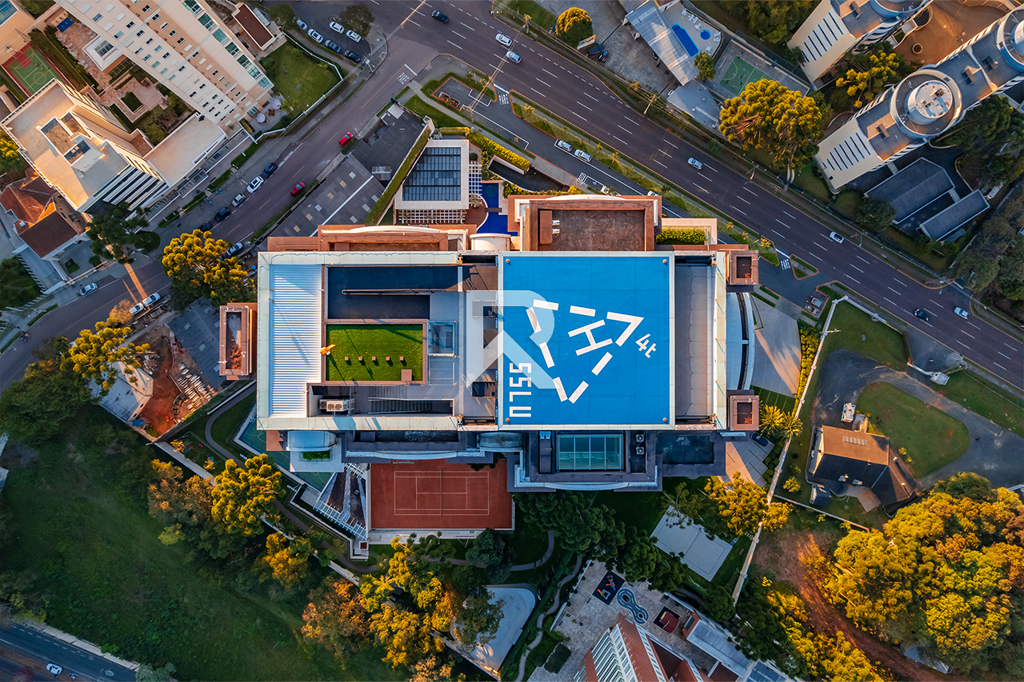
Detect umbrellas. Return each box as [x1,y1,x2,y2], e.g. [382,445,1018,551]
[256,114,266,123]
[272,100,281,110]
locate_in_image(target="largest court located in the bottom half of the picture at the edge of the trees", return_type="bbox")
[371,457,514,527]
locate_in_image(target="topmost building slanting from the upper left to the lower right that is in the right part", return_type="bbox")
[623,0,700,89]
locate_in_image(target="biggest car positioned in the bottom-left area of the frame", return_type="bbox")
[45,662,63,674]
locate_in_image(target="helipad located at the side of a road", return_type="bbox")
[498,251,675,430]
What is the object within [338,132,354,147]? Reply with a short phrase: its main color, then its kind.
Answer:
red car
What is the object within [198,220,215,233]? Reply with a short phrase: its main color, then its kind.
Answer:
black vehicle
